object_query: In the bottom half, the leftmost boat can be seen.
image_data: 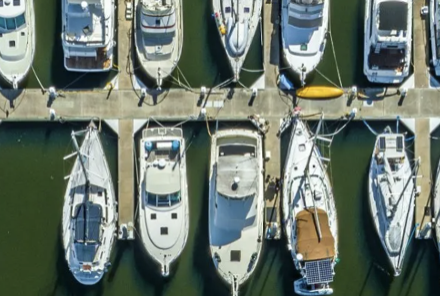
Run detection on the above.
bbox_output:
[61,117,117,286]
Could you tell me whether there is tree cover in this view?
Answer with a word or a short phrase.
No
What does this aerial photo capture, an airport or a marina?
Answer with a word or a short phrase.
marina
